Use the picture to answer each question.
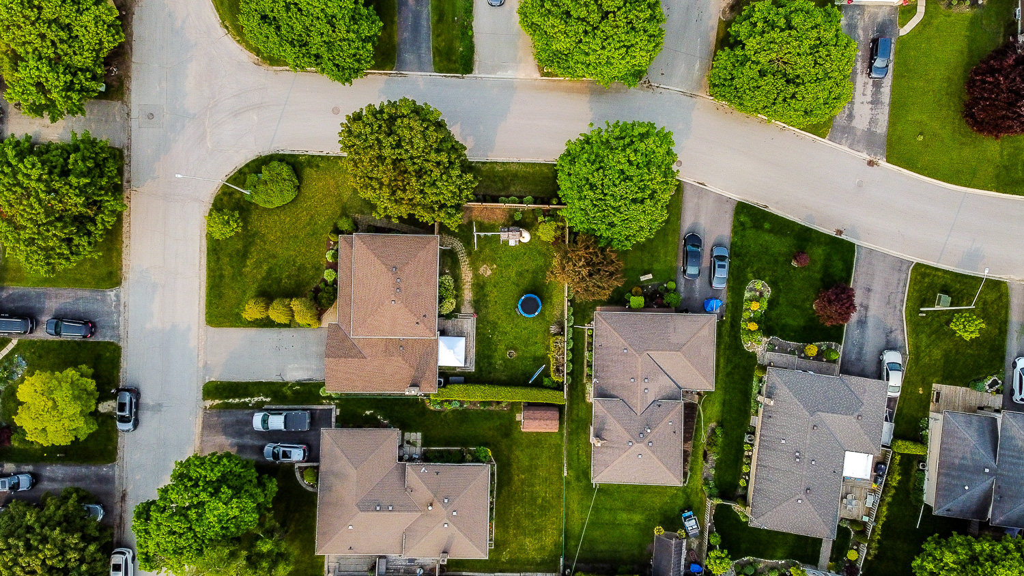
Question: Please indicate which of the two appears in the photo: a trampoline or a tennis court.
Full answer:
The one in the frame is a trampoline.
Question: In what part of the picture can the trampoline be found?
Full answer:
Look in the center portion of the view to spot the trampoline.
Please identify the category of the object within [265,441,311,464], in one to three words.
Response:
car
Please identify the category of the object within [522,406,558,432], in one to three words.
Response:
shed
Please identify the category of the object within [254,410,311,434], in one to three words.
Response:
truck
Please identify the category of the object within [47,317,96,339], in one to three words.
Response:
car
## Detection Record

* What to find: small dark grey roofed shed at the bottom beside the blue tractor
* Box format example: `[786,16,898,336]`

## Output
[651,531,686,576]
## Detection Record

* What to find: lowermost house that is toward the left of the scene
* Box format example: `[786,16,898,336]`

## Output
[315,427,490,565]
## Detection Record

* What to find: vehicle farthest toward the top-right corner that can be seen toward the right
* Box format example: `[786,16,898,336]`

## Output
[865,34,891,81]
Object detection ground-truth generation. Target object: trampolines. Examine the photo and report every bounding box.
[516,293,542,318]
